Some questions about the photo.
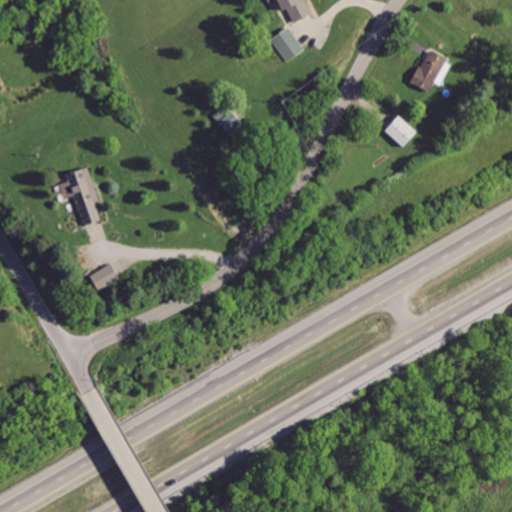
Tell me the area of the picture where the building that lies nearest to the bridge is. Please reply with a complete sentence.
The building that lies nearest to the bridge sits in the left section of the image.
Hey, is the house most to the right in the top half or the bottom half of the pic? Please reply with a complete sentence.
The top half of the photo is where the house most to the right is.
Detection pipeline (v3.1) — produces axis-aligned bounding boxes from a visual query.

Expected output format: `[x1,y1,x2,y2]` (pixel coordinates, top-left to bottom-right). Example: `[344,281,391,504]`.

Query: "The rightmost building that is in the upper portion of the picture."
[410,52,452,92]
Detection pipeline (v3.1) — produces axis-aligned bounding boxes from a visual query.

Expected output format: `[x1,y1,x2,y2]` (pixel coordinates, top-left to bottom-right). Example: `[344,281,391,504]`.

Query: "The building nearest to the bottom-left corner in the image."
[90,264,117,290]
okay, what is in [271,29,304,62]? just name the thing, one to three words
barn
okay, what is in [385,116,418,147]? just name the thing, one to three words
house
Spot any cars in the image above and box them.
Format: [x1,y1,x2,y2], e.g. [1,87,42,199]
[308,38,316,48]
[165,478,175,486]
[298,35,308,43]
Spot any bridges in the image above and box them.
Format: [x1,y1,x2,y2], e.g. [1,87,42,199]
[75,382,167,512]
